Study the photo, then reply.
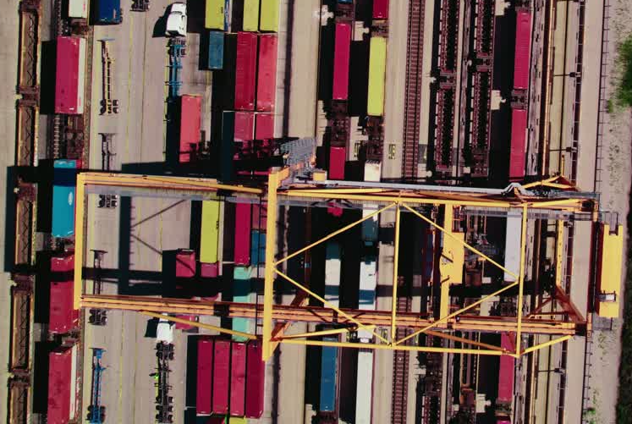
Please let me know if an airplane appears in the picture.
No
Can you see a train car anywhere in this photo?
Yes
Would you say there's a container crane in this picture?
Yes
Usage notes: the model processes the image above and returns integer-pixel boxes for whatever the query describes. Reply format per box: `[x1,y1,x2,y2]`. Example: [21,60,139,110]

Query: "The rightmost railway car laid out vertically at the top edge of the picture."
[509,0,532,97]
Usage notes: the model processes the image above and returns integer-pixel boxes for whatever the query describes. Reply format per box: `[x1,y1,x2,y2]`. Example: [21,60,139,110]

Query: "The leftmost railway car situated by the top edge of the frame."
[19,0,43,95]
